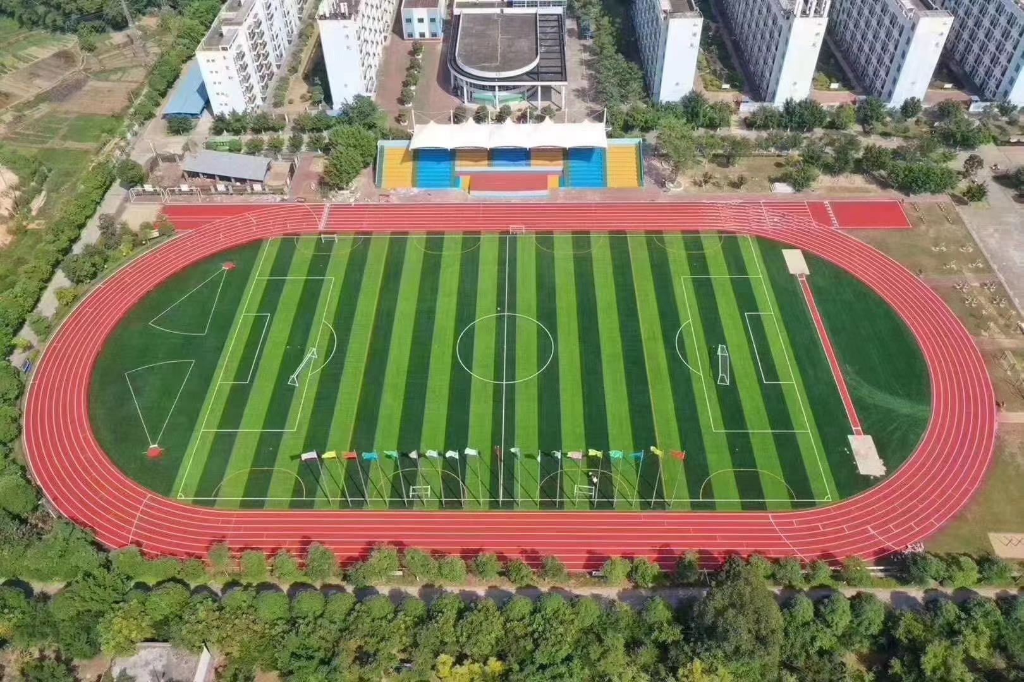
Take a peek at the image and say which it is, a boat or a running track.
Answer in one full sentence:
There is a running track in the scene.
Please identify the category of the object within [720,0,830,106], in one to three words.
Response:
building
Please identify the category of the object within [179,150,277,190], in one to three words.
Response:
shed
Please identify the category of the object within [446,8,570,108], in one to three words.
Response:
building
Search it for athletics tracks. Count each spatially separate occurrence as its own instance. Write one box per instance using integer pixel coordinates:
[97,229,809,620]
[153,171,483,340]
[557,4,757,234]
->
[24,200,994,570]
